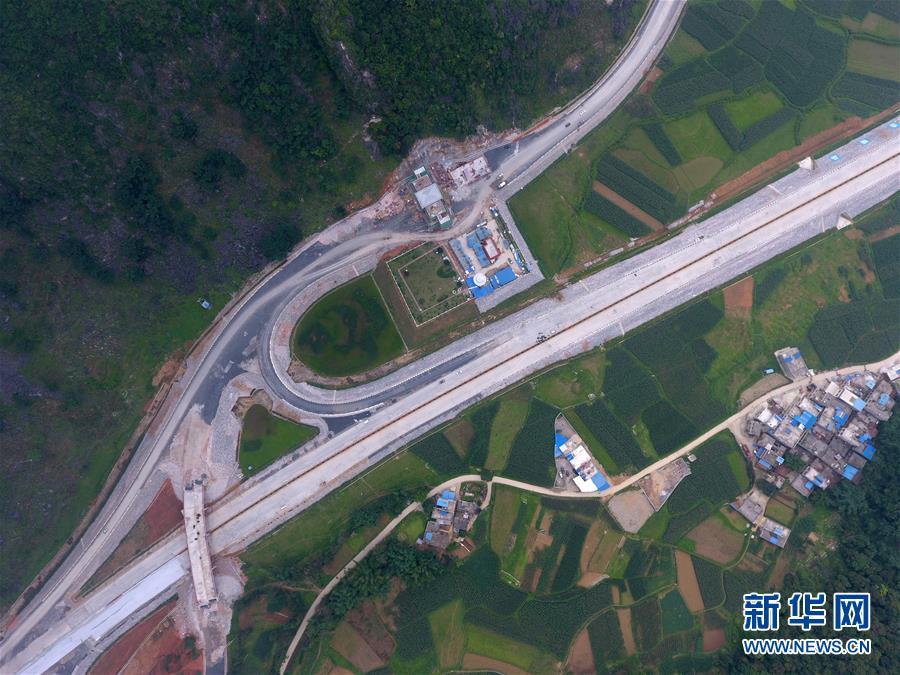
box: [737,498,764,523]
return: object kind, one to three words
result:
house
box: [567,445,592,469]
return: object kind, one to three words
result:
house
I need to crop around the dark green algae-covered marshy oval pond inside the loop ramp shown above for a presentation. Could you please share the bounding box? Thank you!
[292,273,403,378]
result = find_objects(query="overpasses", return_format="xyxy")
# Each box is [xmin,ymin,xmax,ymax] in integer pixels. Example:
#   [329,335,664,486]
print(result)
[183,483,224,606]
